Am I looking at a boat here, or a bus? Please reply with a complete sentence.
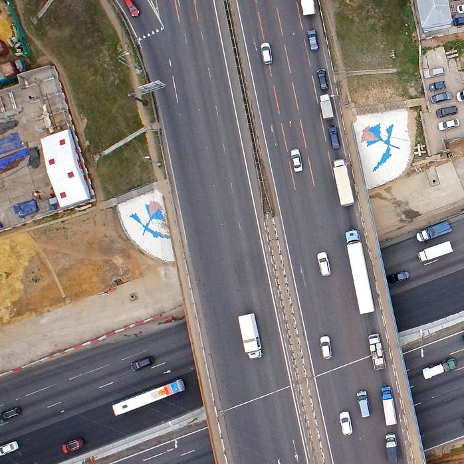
The one in the frame is a bus.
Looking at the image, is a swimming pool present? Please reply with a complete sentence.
No, the picture doesn't show any swimming pool.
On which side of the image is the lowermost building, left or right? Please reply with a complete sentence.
The lowermost building is on the left side of the image.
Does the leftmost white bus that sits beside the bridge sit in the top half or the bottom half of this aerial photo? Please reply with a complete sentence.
It is in the bottom half that the leftmost white bus that sits beside the bridge appears.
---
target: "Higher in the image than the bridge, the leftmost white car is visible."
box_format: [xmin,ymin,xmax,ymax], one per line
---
[261,43,273,65]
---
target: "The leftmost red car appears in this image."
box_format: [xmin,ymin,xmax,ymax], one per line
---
[60,437,86,454]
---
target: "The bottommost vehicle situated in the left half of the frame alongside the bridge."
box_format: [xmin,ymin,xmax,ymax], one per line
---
[111,375,191,417]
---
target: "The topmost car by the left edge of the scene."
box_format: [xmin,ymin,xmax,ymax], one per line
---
[0,406,24,422]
